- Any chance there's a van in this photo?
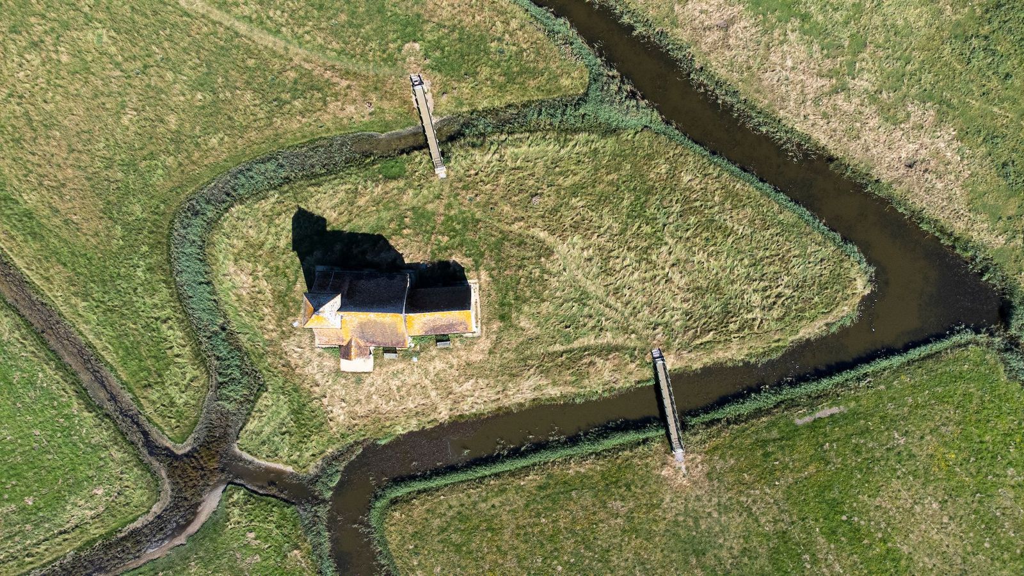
No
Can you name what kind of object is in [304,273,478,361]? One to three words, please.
building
